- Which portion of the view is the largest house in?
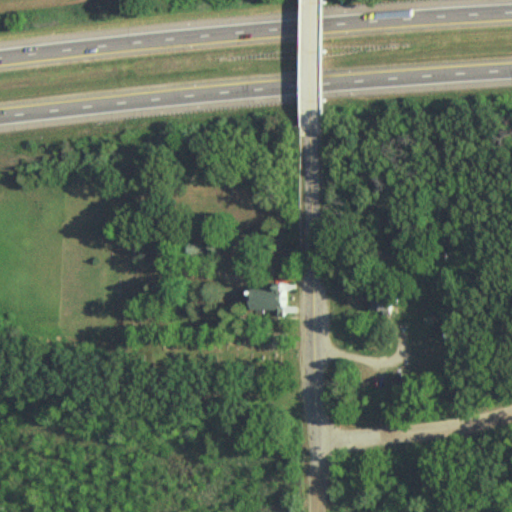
center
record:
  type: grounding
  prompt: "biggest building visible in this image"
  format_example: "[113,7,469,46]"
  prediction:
[248,286,282,310]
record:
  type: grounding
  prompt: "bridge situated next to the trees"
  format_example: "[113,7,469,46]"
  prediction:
[298,0,325,134]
